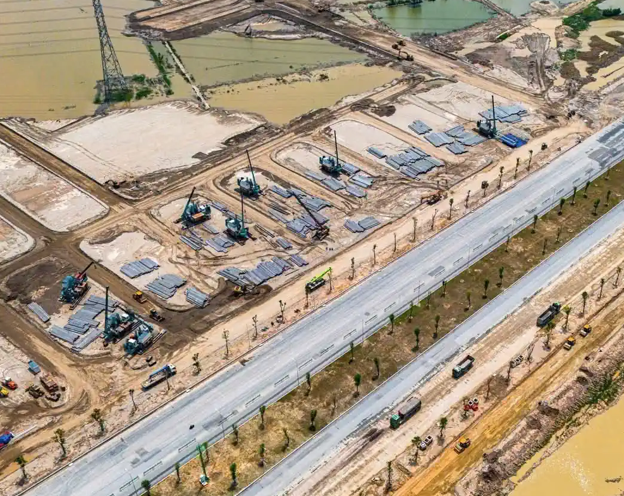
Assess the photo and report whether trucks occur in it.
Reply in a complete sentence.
Yes, you can see a truck in this photo.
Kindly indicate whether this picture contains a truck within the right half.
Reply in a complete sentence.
Yes, the scene does show a truck within the right half.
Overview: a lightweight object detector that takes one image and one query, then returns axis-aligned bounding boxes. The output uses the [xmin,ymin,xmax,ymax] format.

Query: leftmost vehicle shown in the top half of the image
[103,171,121,188]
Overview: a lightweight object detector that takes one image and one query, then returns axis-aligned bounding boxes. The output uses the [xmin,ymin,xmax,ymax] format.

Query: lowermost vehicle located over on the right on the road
[453,434,471,453]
